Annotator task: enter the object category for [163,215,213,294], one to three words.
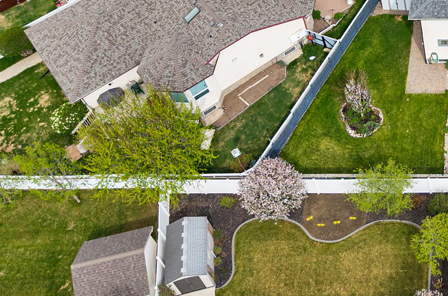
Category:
shed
